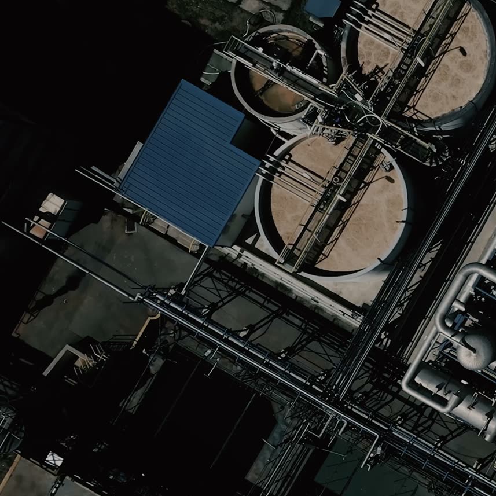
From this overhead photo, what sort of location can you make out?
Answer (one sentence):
The picture captures an industrial area.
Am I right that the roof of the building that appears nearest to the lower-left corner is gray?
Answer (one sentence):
No, the roof of the building that appears nearest to the lower-left corner is actually black.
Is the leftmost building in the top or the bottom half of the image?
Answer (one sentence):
You can find the leftmost building in the top half.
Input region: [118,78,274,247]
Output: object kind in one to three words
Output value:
shed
